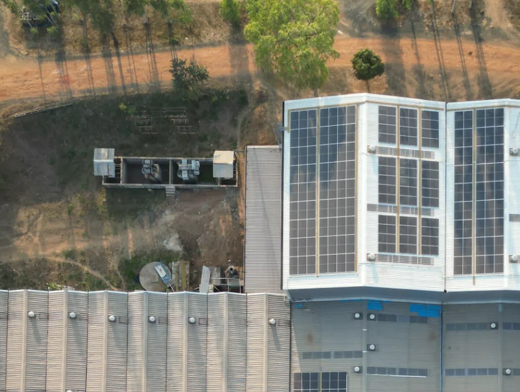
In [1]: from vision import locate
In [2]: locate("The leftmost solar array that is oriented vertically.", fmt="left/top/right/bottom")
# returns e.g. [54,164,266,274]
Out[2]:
[290,104,355,275]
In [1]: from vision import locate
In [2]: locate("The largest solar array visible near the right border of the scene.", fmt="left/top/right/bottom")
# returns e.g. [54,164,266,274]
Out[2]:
[454,107,503,275]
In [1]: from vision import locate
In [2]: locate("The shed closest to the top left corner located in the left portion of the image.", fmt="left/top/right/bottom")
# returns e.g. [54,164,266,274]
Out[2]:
[93,151,121,183]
